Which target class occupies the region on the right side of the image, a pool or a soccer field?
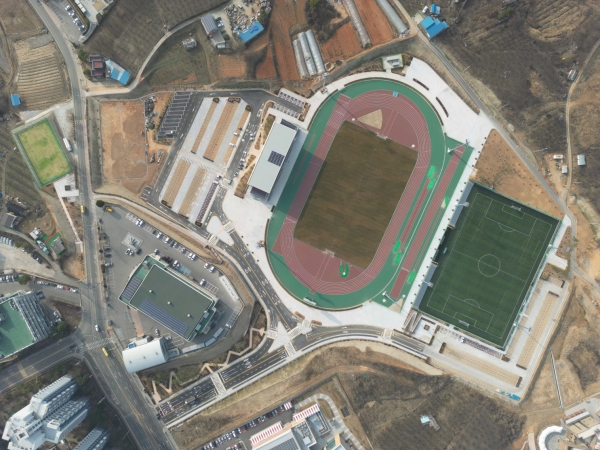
soccer field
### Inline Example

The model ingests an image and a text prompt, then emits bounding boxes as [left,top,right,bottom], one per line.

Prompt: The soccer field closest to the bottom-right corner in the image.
[419,183,561,349]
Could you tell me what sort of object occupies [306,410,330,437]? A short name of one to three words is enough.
building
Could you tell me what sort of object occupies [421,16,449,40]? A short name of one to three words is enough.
house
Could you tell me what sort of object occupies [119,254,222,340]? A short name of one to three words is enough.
building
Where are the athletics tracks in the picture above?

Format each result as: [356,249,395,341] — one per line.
[265,80,475,313]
